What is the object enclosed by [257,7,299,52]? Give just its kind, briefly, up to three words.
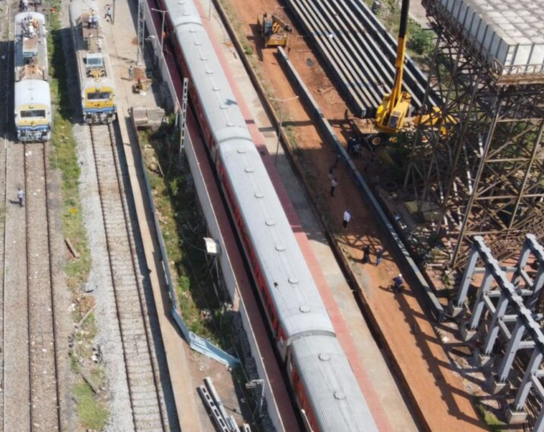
work vehicle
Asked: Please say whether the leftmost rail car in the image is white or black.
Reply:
white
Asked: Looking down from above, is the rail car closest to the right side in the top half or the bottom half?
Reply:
top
